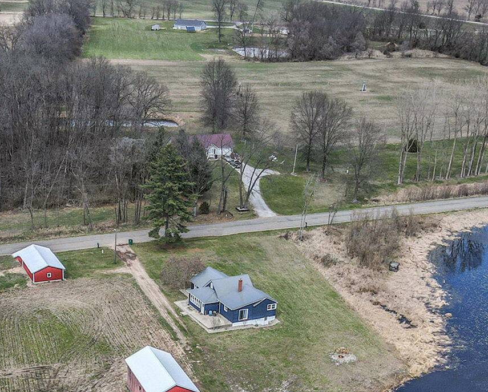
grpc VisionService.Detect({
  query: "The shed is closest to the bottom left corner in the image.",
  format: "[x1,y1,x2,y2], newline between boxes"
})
[12,244,65,283]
